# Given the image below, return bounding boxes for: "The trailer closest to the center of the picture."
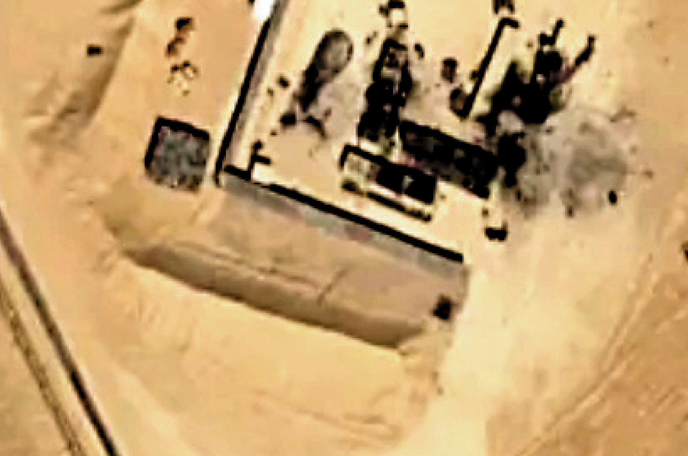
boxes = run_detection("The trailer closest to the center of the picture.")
[342,159,441,220]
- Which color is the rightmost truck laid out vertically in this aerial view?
black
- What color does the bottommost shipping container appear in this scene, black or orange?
black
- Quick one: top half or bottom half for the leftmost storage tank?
top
